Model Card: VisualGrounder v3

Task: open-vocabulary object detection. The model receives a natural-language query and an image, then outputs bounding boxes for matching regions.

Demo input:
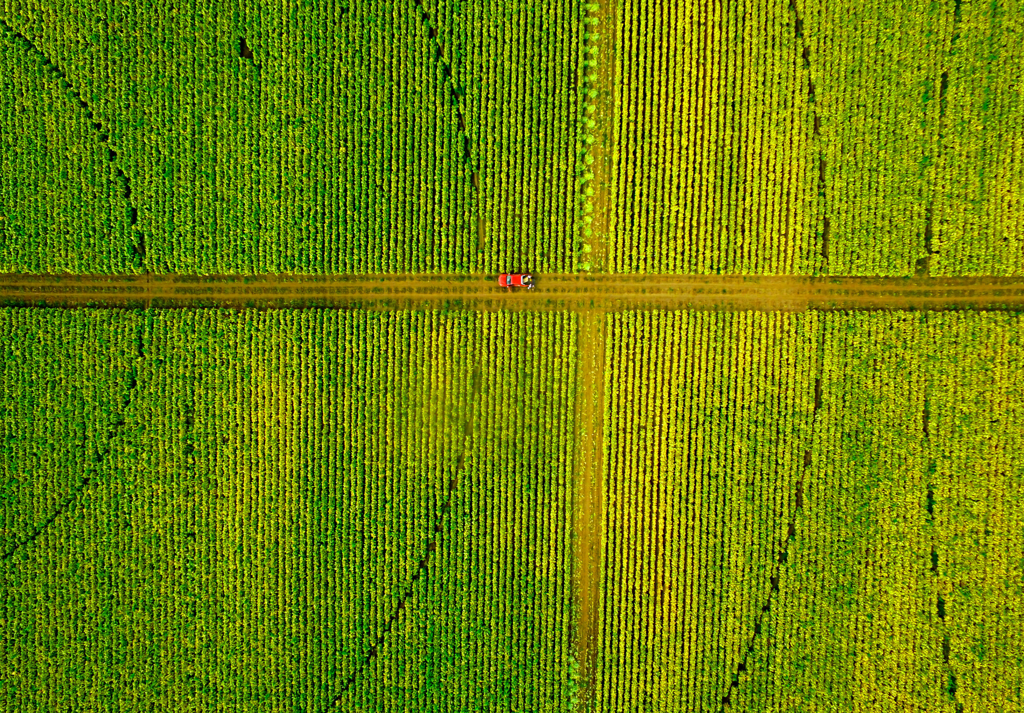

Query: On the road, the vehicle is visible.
[498,273,533,292]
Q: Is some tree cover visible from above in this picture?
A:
No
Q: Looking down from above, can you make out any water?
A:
No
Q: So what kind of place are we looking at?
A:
farmland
